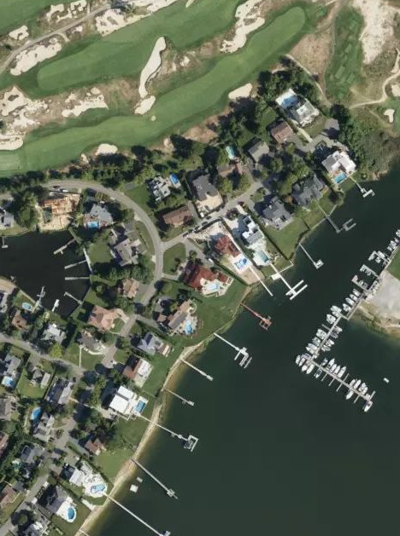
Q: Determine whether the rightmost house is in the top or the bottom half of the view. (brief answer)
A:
top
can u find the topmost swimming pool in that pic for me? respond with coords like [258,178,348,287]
[281,90,301,108]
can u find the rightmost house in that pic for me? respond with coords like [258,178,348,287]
[326,148,358,177]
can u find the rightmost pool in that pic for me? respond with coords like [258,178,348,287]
[330,169,350,187]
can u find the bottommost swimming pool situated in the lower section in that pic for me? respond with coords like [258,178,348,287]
[59,496,77,523]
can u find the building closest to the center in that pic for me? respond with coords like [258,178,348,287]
[181,259,224,290]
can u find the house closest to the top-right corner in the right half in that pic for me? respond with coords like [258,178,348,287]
[290,102,319,129]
